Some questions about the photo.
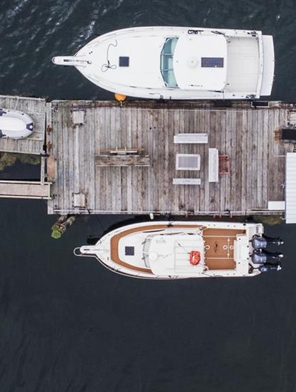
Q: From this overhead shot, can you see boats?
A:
Yes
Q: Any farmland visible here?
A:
No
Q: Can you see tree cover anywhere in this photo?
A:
No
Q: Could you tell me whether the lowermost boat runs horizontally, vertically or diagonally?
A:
horizontally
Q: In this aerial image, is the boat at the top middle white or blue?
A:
white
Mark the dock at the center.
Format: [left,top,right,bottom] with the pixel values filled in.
[42,101,296,217]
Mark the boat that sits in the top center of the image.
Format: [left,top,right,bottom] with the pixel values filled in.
[52,26,275,101]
